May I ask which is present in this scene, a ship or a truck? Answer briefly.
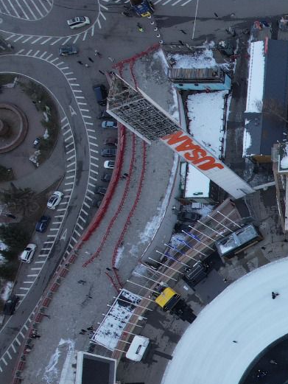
truck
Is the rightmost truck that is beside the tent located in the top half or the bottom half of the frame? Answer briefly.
bottom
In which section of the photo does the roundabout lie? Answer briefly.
left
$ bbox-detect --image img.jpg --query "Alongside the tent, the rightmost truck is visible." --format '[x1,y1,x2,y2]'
[150,285,185,317]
